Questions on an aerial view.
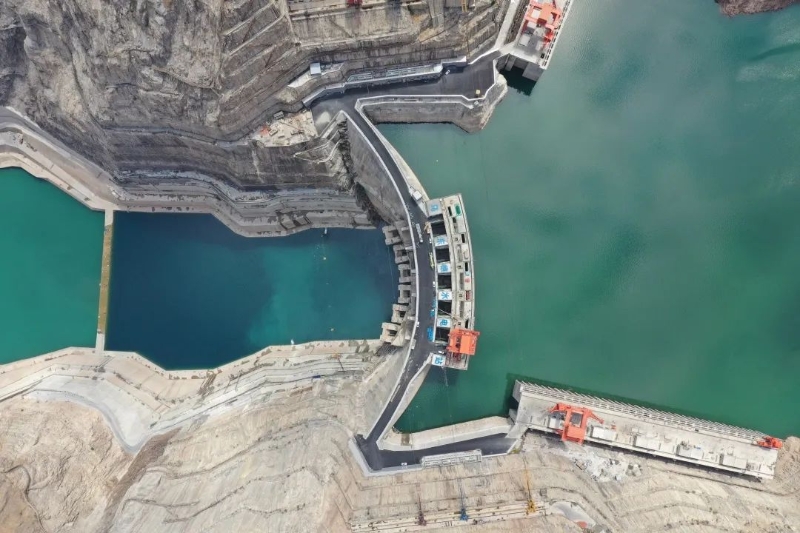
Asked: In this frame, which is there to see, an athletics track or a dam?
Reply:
dam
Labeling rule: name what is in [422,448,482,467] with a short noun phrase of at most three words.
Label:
building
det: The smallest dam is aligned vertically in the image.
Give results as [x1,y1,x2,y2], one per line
[95,209,114,353]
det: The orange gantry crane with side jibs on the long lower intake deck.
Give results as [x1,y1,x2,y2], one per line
[552,396,598,445]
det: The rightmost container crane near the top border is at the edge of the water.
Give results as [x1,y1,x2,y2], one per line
[514,0,567,48]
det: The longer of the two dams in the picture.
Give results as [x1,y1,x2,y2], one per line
[341,106,474,440]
